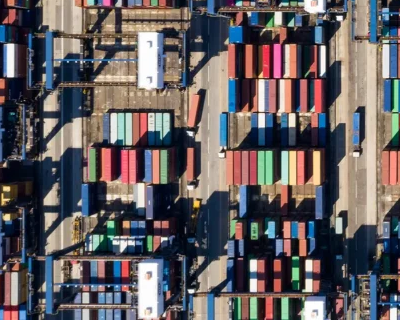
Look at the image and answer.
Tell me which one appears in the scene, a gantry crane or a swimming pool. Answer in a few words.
gantry crane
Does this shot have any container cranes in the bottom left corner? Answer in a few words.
Yes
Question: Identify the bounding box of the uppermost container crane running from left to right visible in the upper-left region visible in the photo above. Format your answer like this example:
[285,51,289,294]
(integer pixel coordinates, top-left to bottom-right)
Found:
[27,24,188,96]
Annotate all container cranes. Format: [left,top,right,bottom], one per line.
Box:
[349,0,400,53]
[189,0,348,26]
[27,233,188,320]
[0,92,30,164]
[27,24,188,96]
[349,249,400,320]
[188,266,347,320]
[0,200,30,267]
